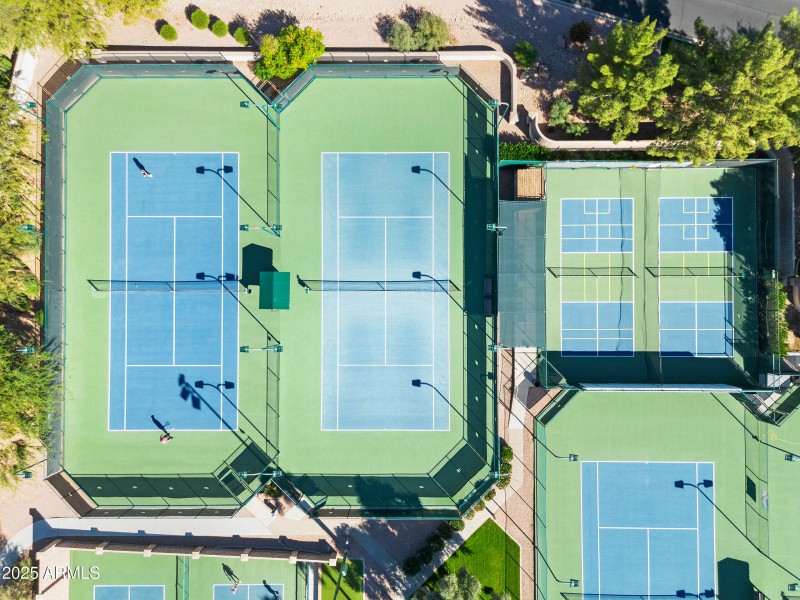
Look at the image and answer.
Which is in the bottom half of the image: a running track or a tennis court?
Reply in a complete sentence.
Visible in the bottom half of the image is a tennis court.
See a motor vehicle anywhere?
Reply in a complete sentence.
No, no motor vehicle is visible in the view.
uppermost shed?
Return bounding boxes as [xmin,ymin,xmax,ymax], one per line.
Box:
[514,168,543,200]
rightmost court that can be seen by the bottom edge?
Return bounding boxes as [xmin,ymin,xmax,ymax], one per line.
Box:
[760,387,800,600]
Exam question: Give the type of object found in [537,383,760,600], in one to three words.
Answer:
tennis court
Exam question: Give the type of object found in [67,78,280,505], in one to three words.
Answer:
tennis court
